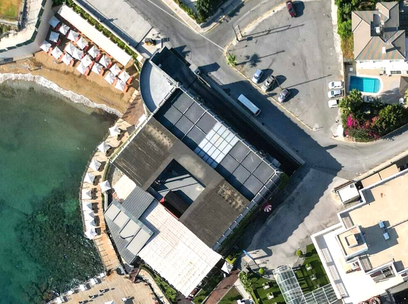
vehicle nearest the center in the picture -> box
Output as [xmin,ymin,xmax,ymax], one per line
[236,90,262,118]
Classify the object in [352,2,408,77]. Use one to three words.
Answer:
house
